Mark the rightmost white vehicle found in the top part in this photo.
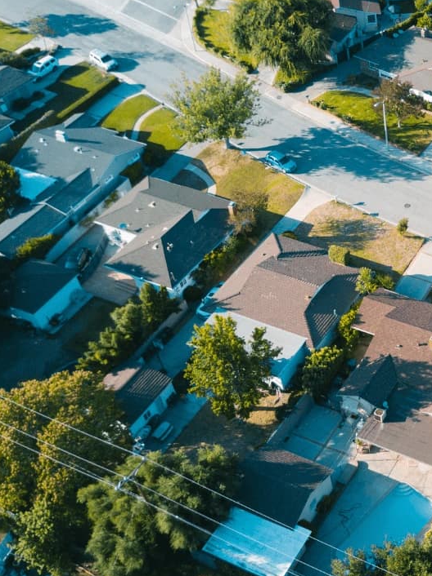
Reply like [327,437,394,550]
[85,46,120,69]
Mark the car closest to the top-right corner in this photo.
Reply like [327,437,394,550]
[263,149,299,172]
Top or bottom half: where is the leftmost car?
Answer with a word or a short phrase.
top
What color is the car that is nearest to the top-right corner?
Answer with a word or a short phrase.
blue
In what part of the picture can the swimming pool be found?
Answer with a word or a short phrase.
bottom right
